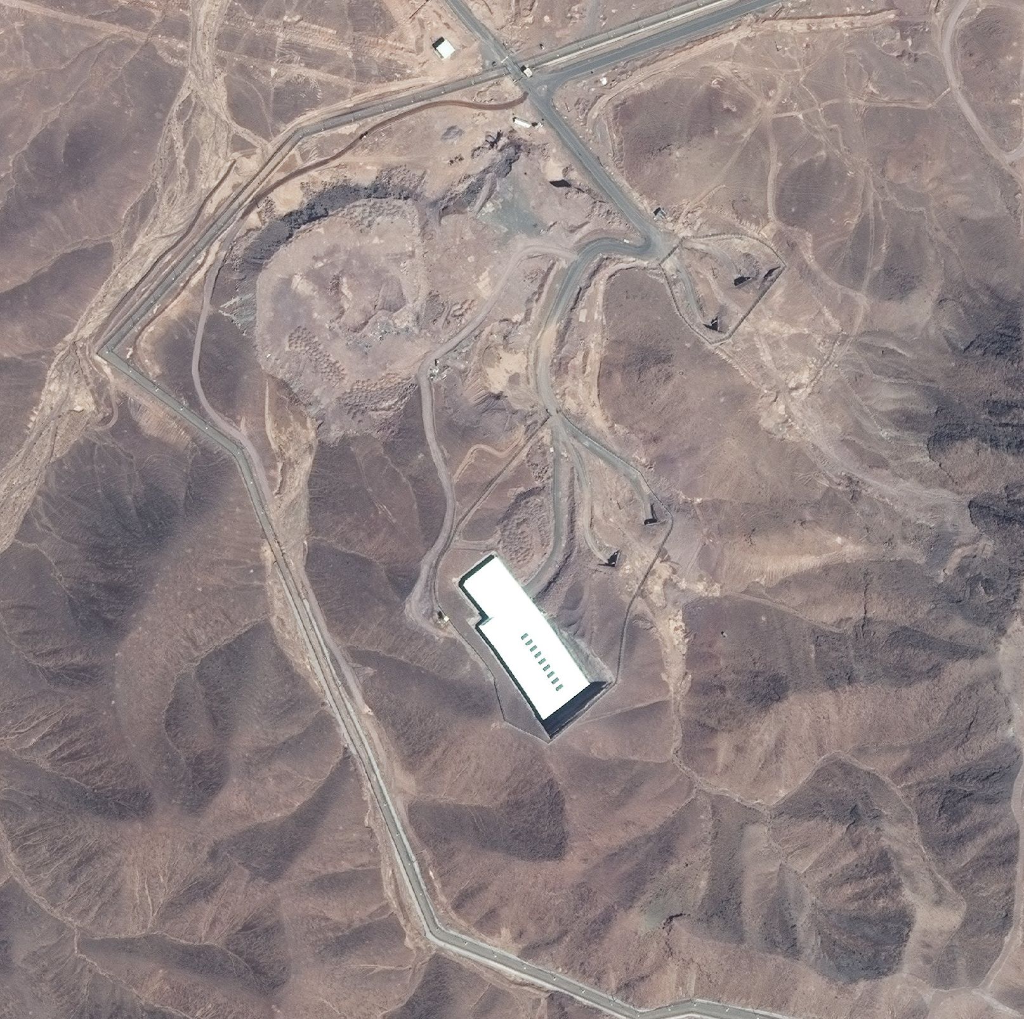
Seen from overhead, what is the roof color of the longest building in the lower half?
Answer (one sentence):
The roof over the longest building in the lower half appears white.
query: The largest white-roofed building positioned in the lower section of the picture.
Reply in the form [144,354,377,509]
[463,557,592,720]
